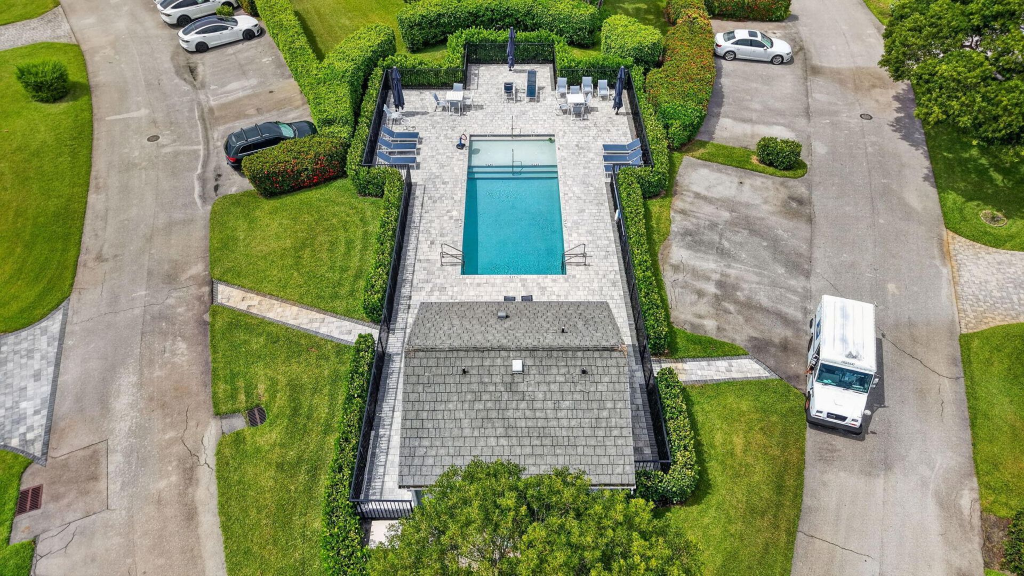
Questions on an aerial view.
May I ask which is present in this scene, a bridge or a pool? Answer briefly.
pool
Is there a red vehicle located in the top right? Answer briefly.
No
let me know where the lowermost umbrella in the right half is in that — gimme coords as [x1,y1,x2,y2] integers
[610,65,626,116]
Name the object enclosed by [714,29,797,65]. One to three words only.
car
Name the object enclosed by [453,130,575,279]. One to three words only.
swimming pool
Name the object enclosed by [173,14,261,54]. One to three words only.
car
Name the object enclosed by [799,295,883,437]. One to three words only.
truck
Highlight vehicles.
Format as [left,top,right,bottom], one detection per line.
[155,0,239,27]
[799,295,883,437]
[225,120,326,175]
[173,14,261,54]
[714,29,797,65]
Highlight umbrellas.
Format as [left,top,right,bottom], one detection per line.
[506,25,516,72]
[391,65,407,112]
[610,65,626,116]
